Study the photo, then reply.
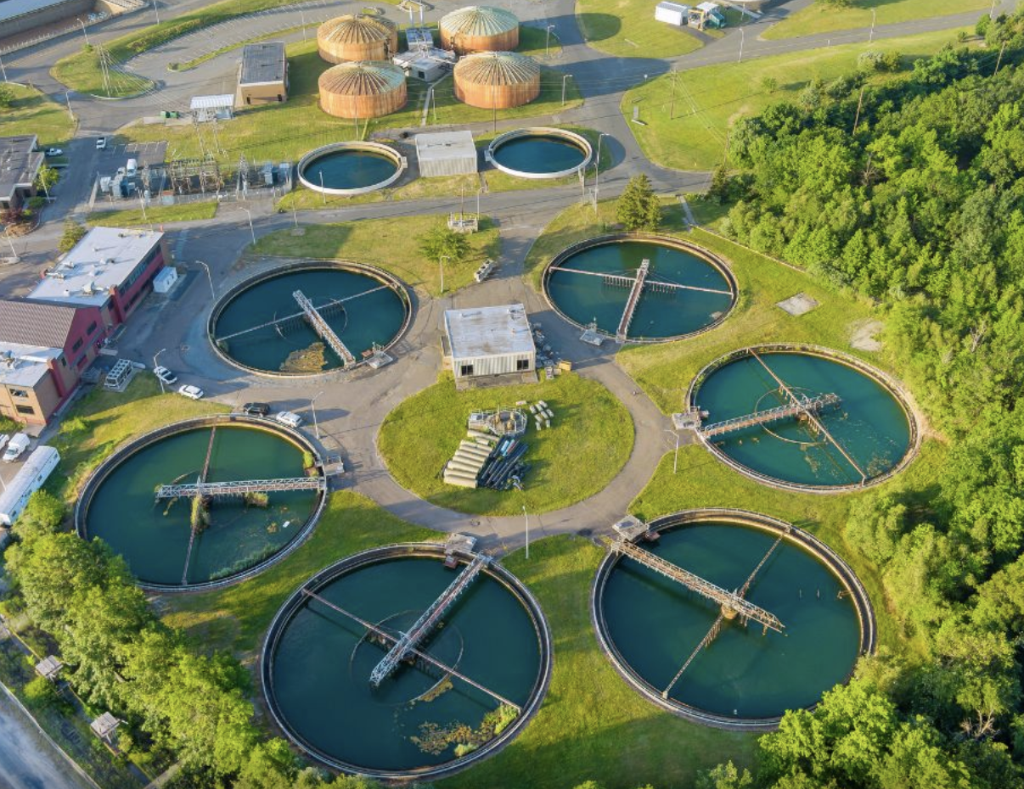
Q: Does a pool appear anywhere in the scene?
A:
No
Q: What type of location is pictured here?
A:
industrial area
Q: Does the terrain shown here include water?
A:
Yes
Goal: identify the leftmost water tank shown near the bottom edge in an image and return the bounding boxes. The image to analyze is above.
[261,539,554,786]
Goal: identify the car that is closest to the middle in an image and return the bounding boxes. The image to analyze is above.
[273,409,304,428]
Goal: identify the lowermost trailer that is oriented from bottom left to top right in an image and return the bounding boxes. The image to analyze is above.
[0,447,60,543]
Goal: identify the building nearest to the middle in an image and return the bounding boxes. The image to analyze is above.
[436,302,539,393]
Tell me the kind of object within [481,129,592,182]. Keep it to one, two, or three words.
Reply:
water tank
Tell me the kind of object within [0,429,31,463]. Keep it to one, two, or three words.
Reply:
van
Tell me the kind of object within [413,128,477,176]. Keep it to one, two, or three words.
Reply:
building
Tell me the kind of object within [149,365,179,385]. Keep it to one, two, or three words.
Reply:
vehicle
